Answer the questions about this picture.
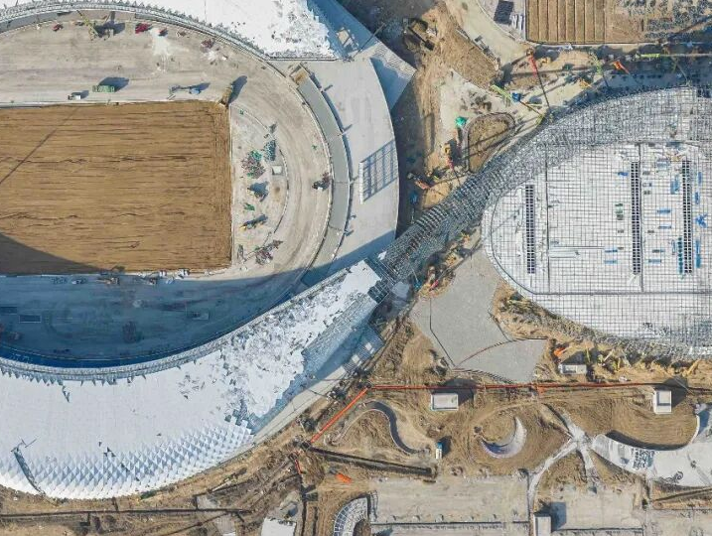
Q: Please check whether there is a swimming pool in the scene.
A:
No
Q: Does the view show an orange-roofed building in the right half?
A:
No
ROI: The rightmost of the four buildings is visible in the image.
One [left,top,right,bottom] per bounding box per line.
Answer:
[653,390,674,416]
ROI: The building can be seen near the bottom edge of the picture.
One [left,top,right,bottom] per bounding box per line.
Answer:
[535,514,554,536]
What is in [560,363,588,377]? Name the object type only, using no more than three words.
building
